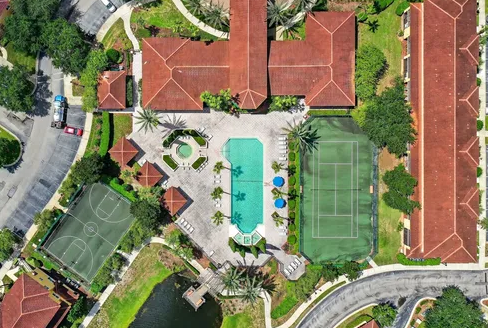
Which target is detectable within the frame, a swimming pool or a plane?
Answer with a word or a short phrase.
swimming pool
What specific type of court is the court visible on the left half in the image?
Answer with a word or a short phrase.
basketball court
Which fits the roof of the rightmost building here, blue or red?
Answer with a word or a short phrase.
red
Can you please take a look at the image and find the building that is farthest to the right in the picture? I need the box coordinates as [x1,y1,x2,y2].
[402,0,479,262]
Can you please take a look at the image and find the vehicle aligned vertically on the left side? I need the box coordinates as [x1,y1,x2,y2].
[52,93,66,129]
